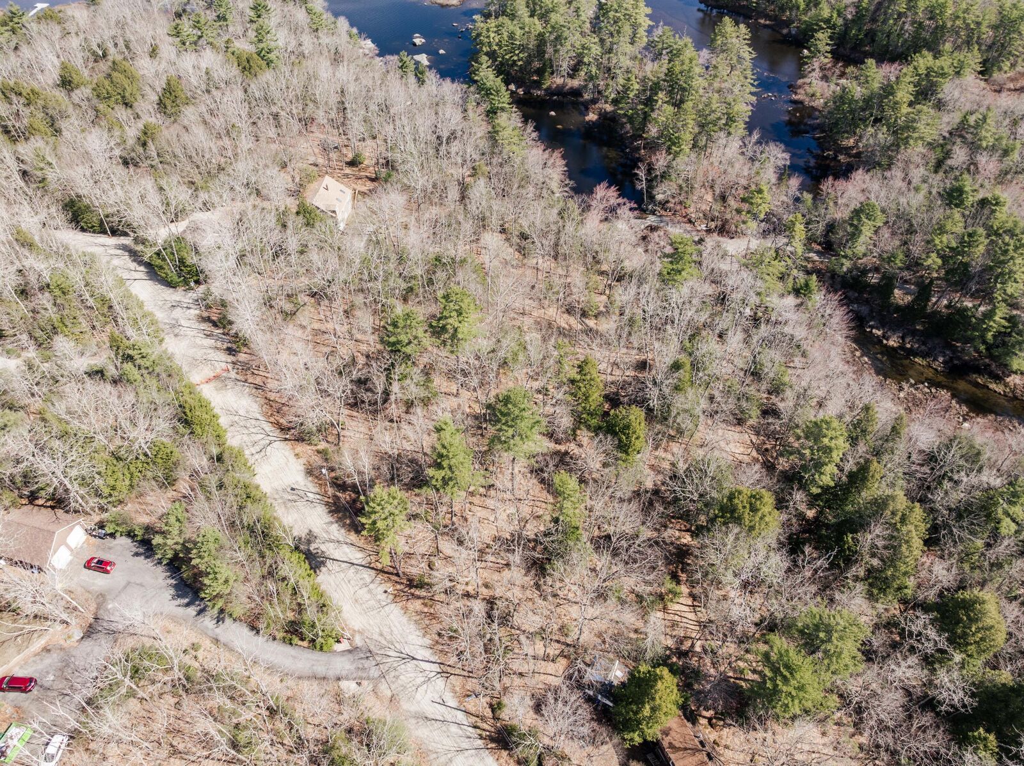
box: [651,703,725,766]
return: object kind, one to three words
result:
building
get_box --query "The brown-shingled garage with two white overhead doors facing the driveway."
[0,497,88,577]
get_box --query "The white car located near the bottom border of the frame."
[37,732,70,766]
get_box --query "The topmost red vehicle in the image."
[79,555,118,575]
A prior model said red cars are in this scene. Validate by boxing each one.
[0,674,39,695]
[79,555,118,575]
